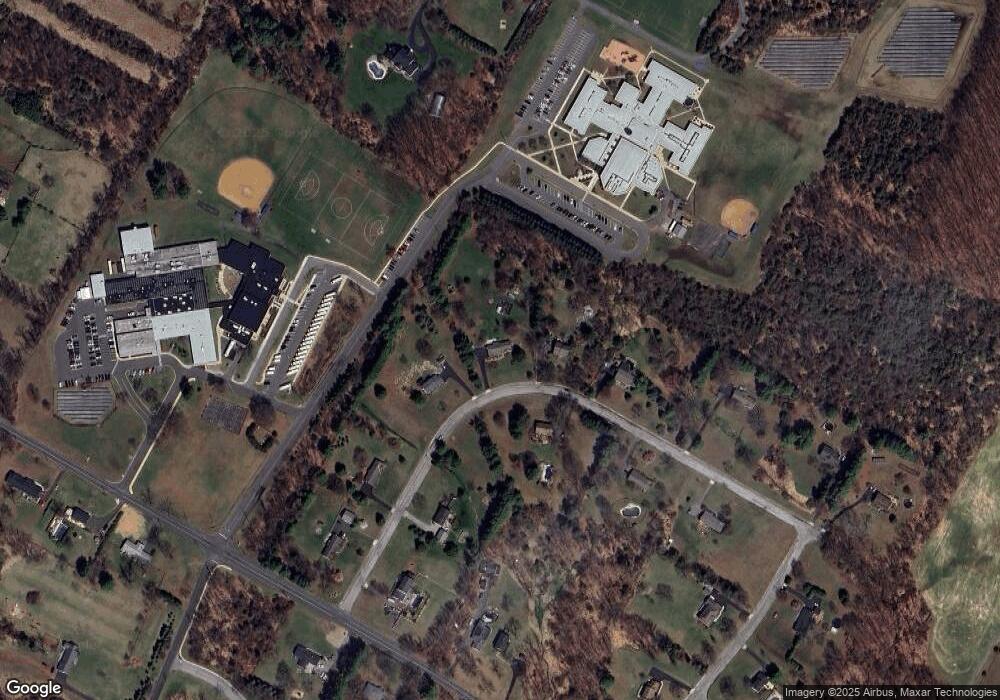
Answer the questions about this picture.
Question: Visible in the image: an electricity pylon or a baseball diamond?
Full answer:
This aerial view contains a baseball diamond.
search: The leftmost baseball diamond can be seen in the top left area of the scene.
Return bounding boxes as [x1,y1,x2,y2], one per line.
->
[217,158,275,224]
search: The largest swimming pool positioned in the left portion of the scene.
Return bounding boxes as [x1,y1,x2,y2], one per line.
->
[369,61,385,79]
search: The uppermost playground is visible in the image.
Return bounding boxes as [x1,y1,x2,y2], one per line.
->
[600,40,648,74]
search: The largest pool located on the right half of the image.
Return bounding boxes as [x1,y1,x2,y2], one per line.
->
[621,506,641,518]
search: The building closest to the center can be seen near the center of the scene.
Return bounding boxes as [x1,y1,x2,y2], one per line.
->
[481,342,514,359]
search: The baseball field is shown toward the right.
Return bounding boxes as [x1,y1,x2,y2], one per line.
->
[721,197,760,239]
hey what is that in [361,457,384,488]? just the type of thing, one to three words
house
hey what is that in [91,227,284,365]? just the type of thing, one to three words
building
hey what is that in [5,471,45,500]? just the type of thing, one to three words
house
